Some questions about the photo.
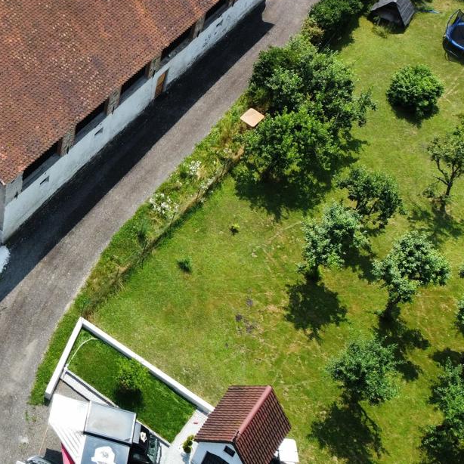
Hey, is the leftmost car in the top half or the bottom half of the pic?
bottom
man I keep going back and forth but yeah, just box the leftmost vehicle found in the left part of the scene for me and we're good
[0,439,50,464]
